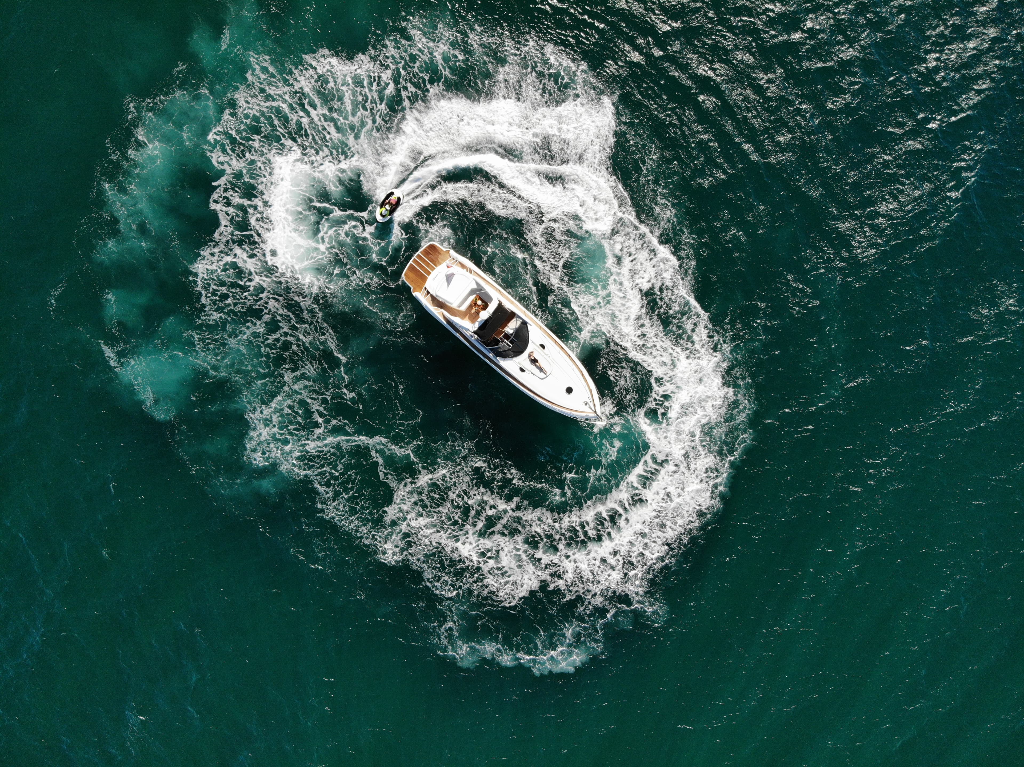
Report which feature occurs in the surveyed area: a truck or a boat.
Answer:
boat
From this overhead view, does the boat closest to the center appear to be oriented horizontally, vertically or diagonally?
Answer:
diagonally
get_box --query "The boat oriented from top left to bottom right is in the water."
[402,242,609,423]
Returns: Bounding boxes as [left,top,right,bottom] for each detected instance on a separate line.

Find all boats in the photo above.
[402,242,609,423]
[376,188,401,222]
